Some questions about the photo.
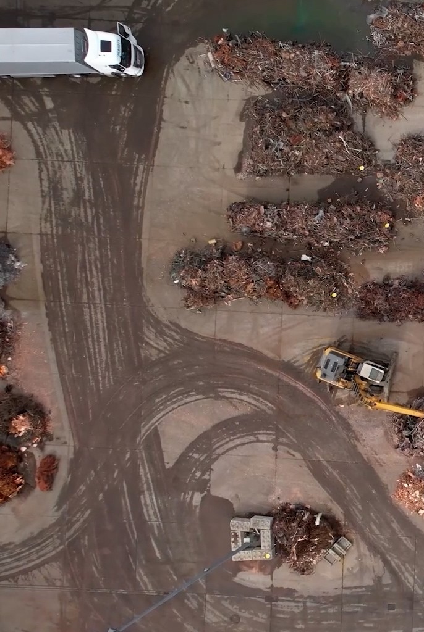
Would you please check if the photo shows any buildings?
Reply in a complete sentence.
No, no building can be seen from above.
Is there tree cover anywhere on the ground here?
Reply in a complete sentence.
No, there is no tree cover in the image.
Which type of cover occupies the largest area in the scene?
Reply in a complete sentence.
For the most part, this view shows paved ground.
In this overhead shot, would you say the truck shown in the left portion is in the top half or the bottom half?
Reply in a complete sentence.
Seen from above, the truck shown in the left portion lies in the top half of the view.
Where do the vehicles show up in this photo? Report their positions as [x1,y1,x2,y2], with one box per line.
[0,22,145,76]
[314,343,424,420]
